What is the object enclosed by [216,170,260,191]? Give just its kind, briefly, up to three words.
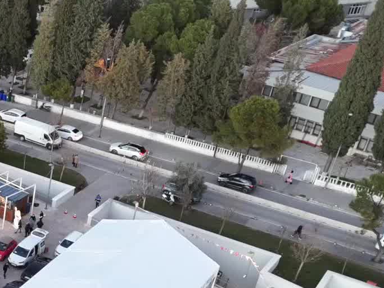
car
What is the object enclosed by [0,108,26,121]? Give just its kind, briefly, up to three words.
vehicle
